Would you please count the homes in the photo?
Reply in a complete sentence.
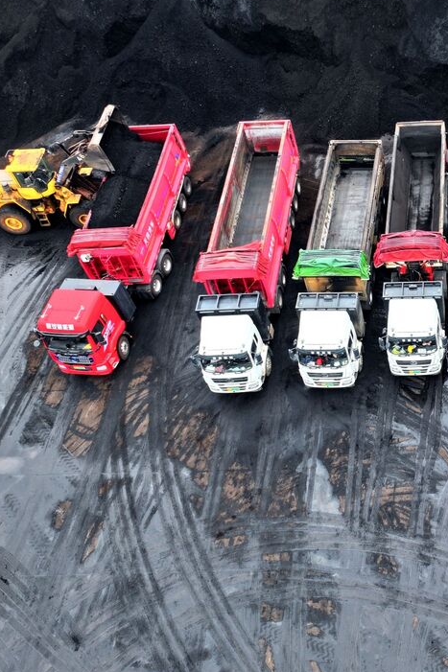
The photo contains no homes.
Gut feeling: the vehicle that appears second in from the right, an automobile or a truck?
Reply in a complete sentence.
I'd say the vehicle that appears second in from the right is a truck.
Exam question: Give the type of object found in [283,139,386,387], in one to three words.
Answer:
truck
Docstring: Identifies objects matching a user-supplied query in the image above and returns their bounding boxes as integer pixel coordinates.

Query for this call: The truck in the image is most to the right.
[373,120,448,374]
